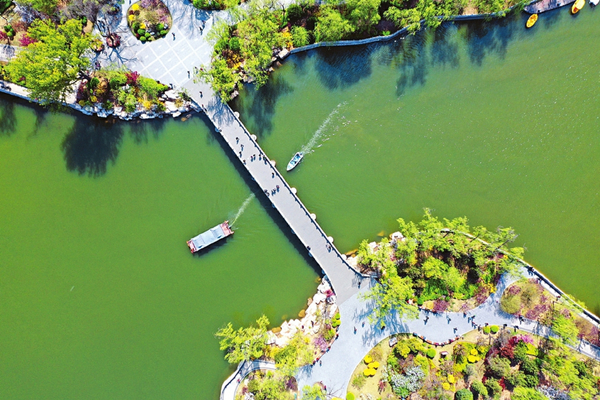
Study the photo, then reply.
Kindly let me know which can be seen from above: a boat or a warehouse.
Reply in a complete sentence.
Of the two, only a boat appears.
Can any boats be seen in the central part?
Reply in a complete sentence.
Yes, in the central part there is a boat.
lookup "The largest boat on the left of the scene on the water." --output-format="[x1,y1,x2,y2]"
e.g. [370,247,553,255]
[188,221,234,253]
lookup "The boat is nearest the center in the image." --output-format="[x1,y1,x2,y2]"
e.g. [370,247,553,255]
[287,151,304,170]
